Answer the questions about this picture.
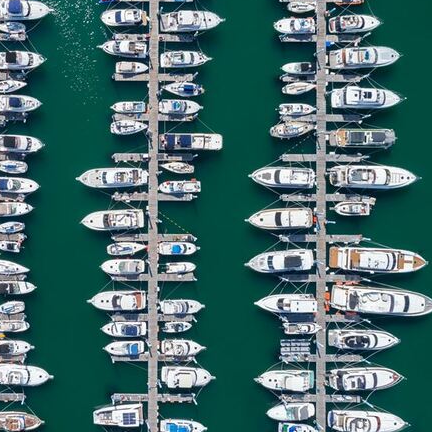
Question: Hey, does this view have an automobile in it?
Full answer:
No, the picture doesn't show any automobile.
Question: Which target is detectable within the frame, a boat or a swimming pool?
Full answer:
The one in the frame is a boat.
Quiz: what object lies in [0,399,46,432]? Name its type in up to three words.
boat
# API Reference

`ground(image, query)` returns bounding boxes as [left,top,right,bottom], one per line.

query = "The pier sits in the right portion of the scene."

[280,0,367,432]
